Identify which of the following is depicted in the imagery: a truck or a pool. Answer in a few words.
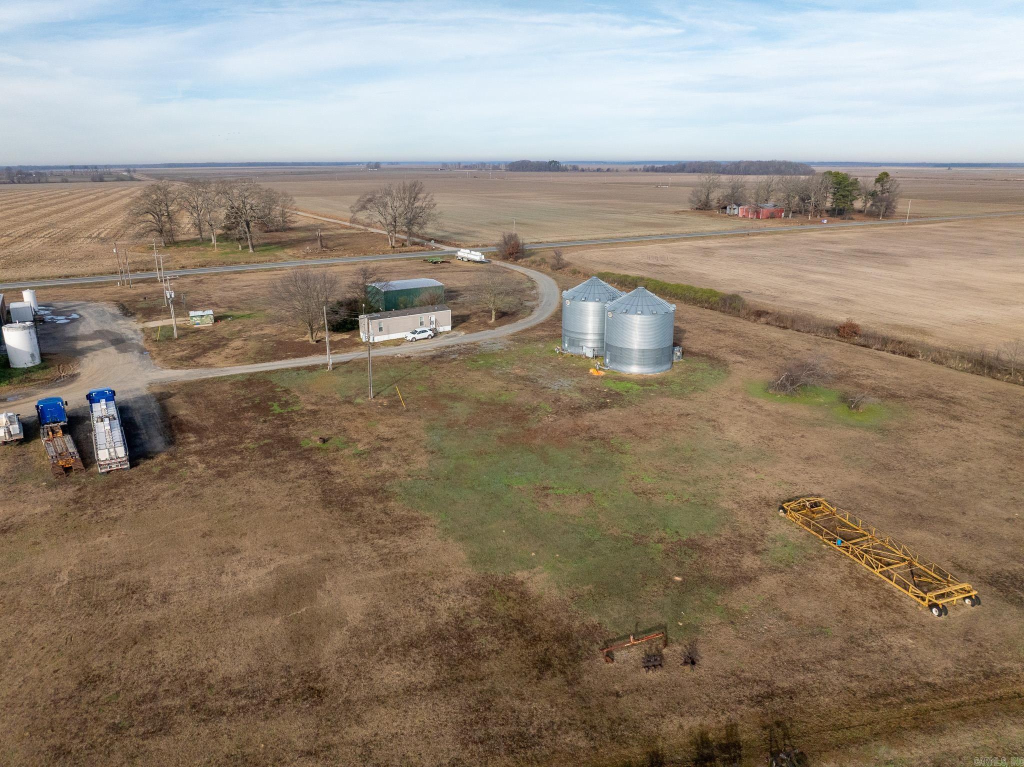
truck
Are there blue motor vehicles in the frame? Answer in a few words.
Yes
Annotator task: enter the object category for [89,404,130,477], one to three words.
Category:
trailer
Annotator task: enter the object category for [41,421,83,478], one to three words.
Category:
trailer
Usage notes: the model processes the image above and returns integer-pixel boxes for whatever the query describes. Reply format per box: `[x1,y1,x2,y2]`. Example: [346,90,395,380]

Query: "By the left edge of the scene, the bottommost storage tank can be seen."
[0,319,46,369]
